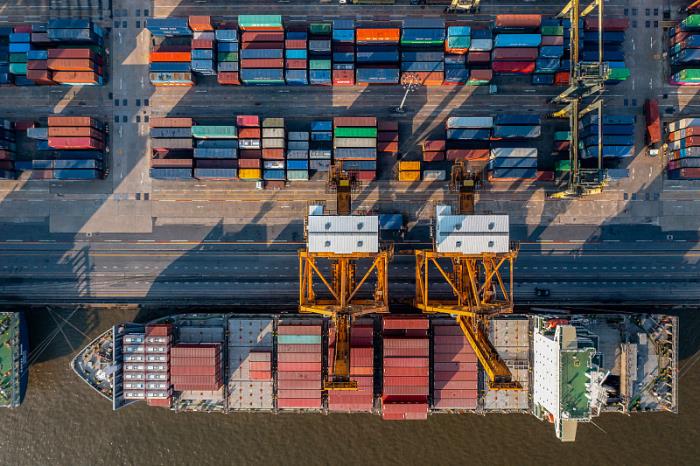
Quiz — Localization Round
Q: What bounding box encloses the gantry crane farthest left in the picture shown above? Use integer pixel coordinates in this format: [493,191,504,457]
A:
[297,160,395,391]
